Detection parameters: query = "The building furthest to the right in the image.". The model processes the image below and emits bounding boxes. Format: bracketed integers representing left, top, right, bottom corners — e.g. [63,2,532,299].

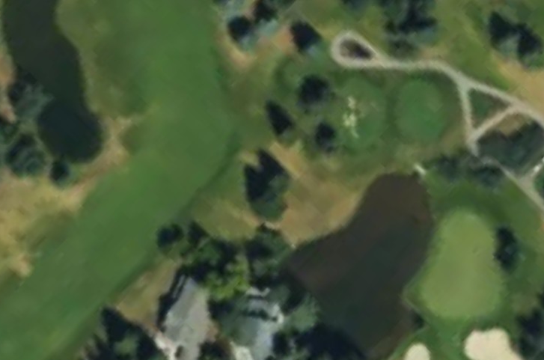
[230,292,282,360]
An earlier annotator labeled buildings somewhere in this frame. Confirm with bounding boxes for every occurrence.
[230,292,282,360]
[158,272,211,352]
